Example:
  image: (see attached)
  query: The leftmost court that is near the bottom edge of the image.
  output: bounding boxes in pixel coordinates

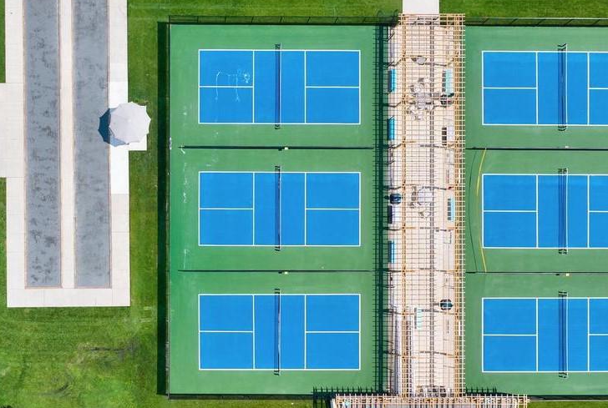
[171,271,388,395]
